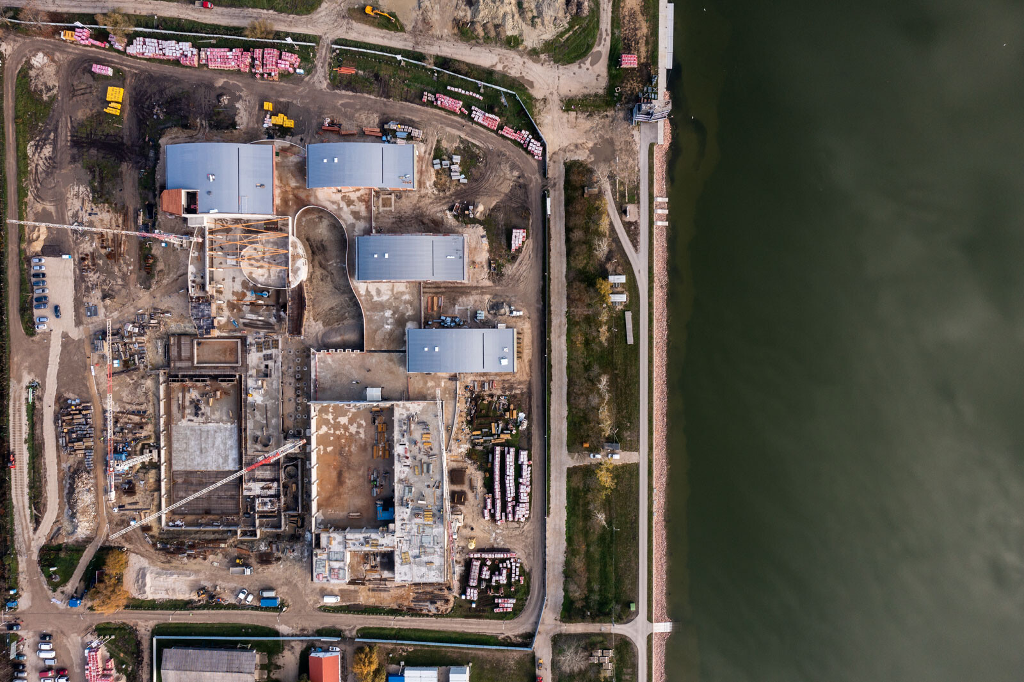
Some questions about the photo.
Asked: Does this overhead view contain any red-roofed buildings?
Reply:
Yes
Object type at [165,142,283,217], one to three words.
building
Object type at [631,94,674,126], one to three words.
building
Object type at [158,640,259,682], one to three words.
shed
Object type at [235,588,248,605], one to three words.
vehicle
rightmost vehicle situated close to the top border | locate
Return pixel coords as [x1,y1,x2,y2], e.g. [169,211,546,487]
[364,6,400,24]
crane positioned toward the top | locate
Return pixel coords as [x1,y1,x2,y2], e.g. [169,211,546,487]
[7,219,203,254]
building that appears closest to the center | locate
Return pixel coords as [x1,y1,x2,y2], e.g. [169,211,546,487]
[406,329,516,373]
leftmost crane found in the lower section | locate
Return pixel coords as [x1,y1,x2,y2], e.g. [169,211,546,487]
[103,320,161,499]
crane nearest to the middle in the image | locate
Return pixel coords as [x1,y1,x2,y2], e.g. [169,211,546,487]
[436,388,468,580]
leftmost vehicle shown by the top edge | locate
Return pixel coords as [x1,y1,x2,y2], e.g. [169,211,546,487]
[58,30,78,42]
